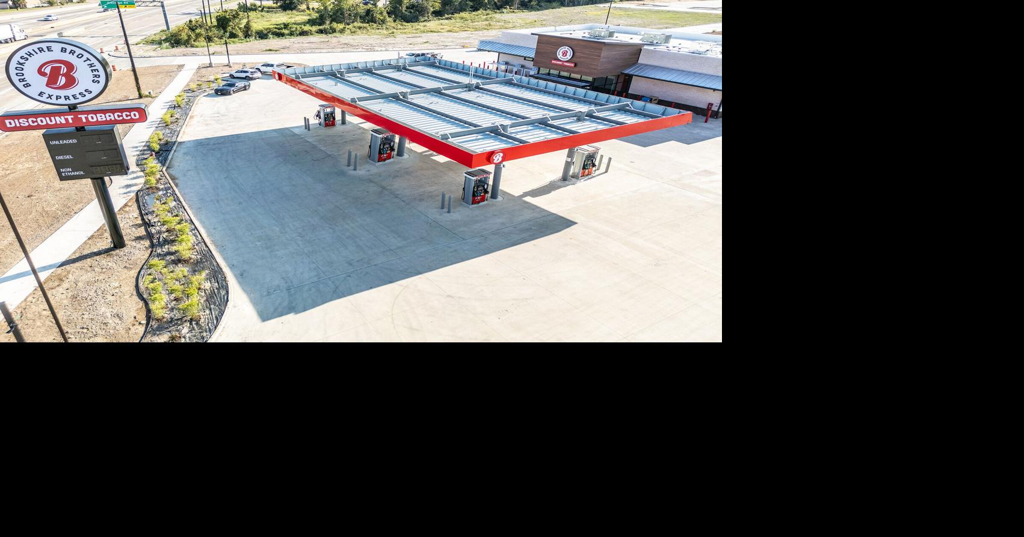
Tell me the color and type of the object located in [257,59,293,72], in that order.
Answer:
white vehicle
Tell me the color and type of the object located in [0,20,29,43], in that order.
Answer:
white truck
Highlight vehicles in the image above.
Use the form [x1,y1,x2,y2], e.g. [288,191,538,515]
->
[216,79,250,95]
[47,12,60,20]
[0,20,29,43]
[257,59,293,72]
[230,66,262,80]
